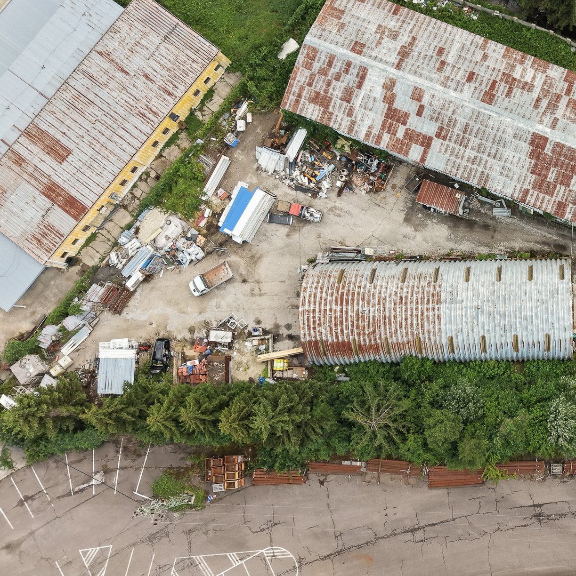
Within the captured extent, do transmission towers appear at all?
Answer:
Yes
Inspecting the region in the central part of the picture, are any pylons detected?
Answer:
No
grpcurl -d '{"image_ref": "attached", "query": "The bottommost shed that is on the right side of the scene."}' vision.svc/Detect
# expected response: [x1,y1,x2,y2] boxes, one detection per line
[300,259,573,362]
